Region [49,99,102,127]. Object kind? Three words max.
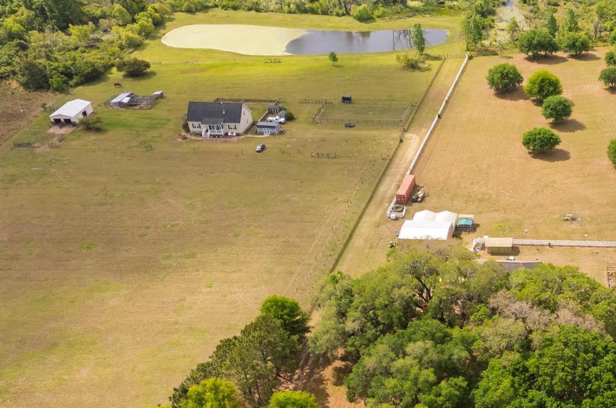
building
